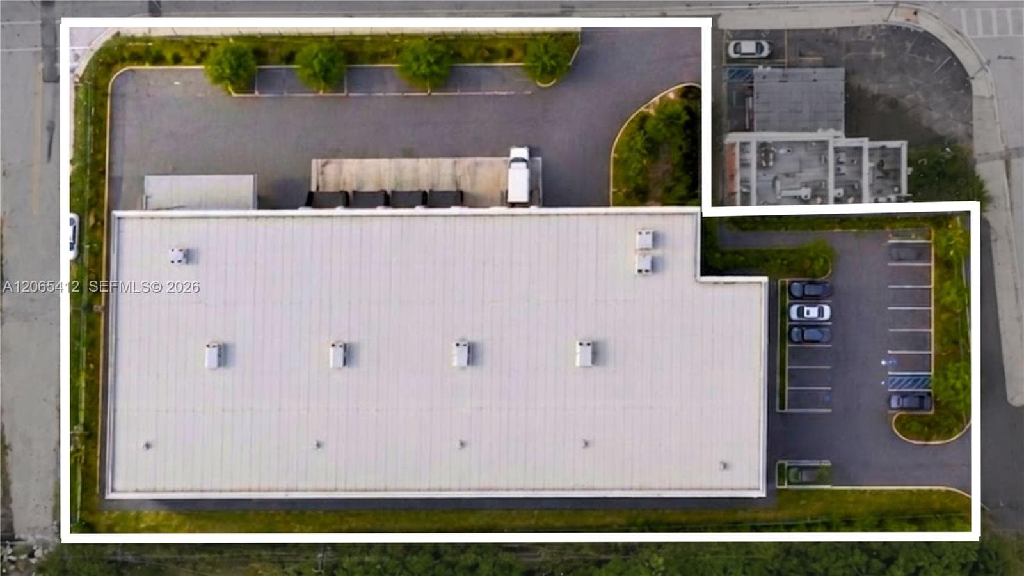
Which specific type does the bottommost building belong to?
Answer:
warehouse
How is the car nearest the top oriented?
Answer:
from side to side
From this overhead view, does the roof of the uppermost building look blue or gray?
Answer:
gray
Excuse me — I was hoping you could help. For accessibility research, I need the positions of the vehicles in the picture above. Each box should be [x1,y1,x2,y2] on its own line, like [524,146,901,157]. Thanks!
[787,280,831,300]
[787,466,826,485]
[787,304,831,323]
[886,243,927,262]
[59,214,82,258]
[727,38,769,59]
[886,393,931,413]
[507,147,530,208]
[788,326,830,345]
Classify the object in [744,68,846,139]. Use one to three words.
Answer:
building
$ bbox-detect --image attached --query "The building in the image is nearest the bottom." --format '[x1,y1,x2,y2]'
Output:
[106,206,768,500]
